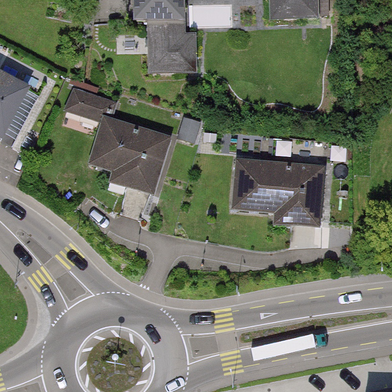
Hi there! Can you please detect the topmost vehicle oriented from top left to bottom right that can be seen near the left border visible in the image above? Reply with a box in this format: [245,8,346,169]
[0,198,26,220]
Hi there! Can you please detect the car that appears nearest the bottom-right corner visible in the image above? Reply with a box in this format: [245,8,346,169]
[338,366,362,390]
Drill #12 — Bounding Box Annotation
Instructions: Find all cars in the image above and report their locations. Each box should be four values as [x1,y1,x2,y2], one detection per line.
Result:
[190,312,214,324]
[40,282,55,307]
[53,366,66,389]
[338,292,362,304]
[12,242,33,266]
[88,207,109,227]
[64,248,88,270]
[144,322,162,344]
[0,198,26,220]
[338,366,362,390]
[307,372,326,392]
[163,376,185,392]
